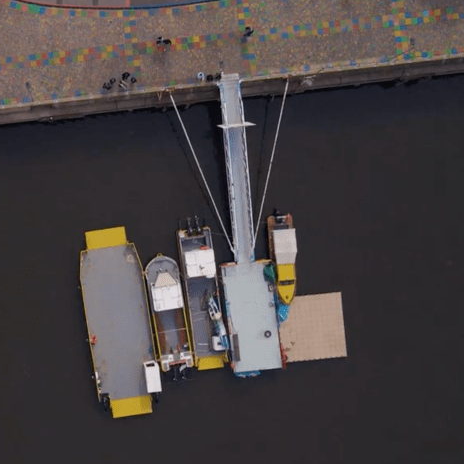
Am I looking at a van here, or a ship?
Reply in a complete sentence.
The image shows a ship.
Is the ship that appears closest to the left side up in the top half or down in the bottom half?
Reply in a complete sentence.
You can find the ship that appears closest to the left side in the bottom half.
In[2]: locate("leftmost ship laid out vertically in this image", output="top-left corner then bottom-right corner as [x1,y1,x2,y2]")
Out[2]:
[77,226,162,418]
